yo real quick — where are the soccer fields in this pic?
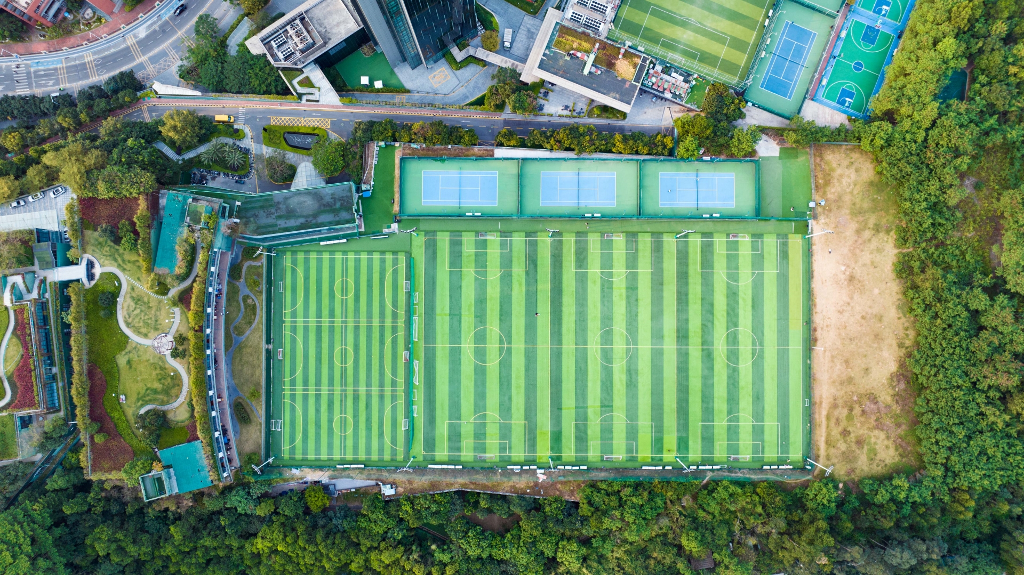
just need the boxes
[550,232,679,462]
[283,256,405,320]
[676,232,811,462]
[283,324,404,389]
[609,0,784,86]
[282,392,404,457]
[422,232,553,462]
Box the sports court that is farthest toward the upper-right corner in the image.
[940,69,966,101]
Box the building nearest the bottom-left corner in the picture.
[139,467,177,502]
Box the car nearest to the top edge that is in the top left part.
[172,2,186,16]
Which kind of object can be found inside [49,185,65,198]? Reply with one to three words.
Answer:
vehicle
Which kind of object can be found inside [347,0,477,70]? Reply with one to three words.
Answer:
building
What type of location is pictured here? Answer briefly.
sports ground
